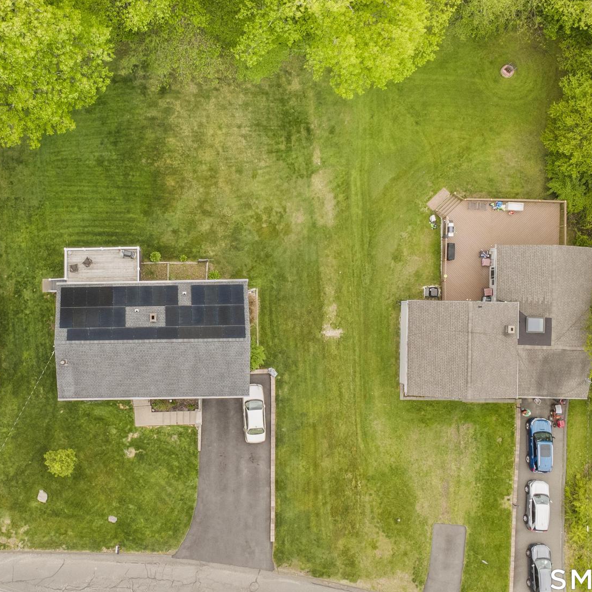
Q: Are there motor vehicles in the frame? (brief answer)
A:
Yes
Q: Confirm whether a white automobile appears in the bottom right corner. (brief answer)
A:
Yes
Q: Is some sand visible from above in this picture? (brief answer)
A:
No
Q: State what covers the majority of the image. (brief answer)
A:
grass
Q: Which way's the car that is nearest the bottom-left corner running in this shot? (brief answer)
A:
from top to bottom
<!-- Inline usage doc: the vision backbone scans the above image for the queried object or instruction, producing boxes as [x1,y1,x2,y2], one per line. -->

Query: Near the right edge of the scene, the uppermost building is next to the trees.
[398,244,592,401]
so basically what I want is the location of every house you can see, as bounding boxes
[398,244,592,401]
[52,279,252,403]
